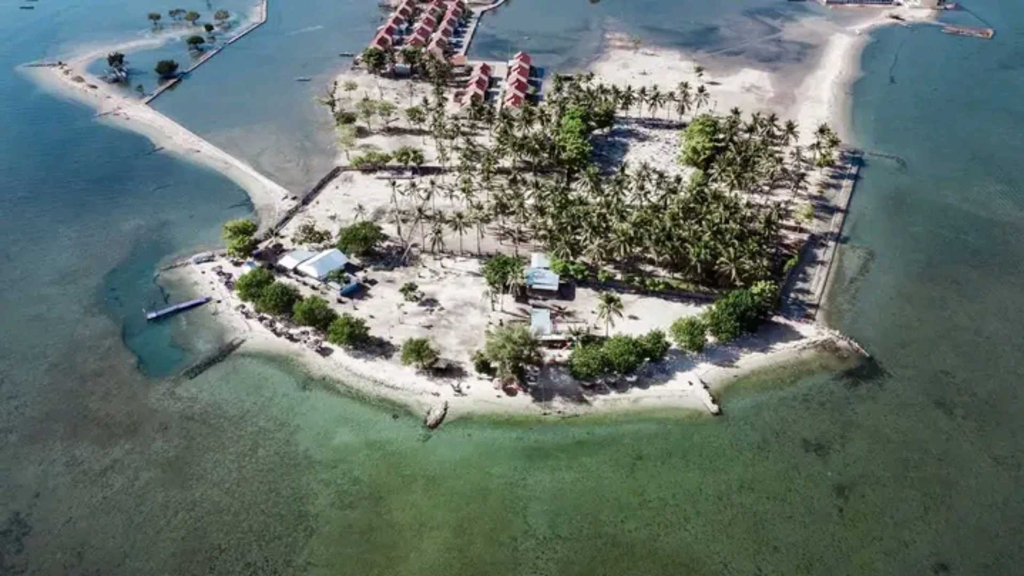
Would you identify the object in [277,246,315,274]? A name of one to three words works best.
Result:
shed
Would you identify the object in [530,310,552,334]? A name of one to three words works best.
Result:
shed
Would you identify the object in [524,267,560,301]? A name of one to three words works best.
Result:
house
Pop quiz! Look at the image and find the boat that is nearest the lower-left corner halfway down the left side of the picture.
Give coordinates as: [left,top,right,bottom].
[144,295,211,318]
